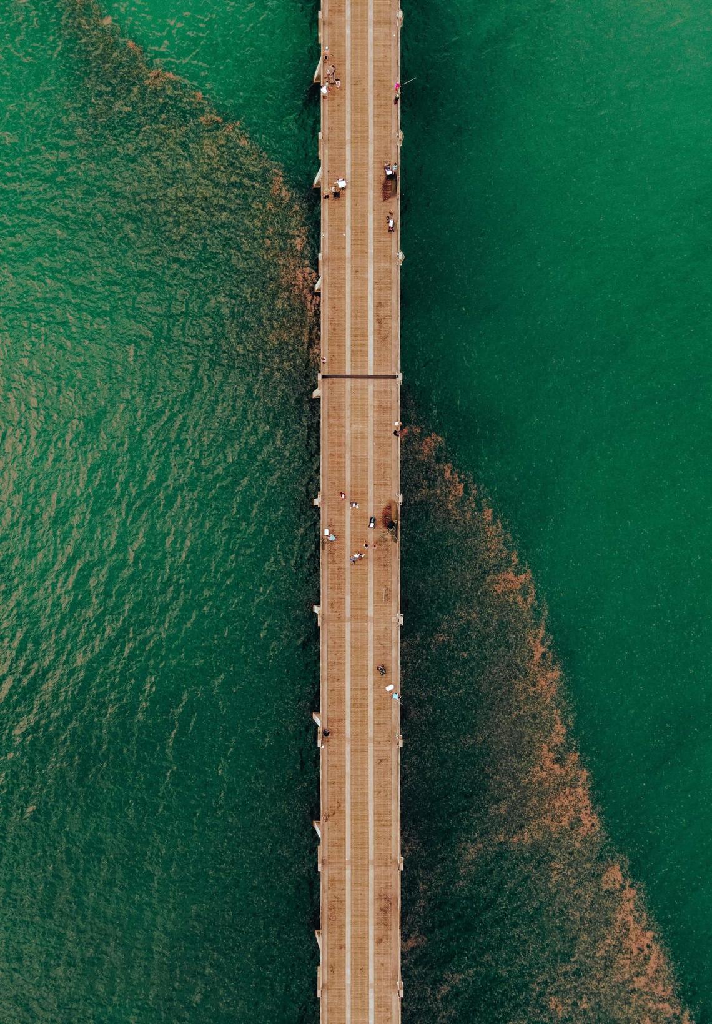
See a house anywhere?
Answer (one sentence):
No, the photo shows no house.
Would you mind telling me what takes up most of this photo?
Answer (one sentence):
The scene is dominated by water.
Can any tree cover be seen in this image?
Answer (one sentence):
No, the scene doesn't show any tree cover.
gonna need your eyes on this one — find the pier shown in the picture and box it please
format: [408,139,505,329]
[313,0,405,1024]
